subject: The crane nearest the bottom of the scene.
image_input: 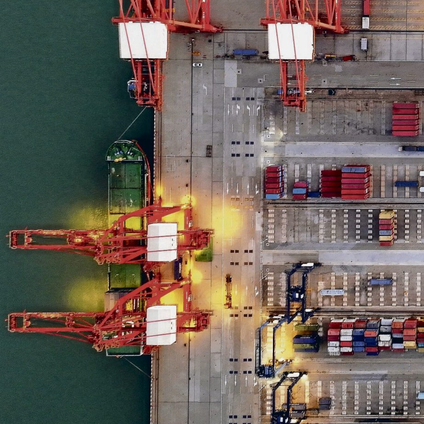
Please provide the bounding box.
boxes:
[269,368,308,424]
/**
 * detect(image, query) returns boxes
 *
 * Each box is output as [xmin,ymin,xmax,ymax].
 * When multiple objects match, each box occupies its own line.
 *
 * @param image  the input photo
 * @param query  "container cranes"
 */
[4,197,216,265]
[269,368,308,424]
[284,259,322,321]
[268,0,350,111]
[254,312,294,376]
[119,0,222,110]
[3,272,215,352]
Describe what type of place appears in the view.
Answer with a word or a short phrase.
port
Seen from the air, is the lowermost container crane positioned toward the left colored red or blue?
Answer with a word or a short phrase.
red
